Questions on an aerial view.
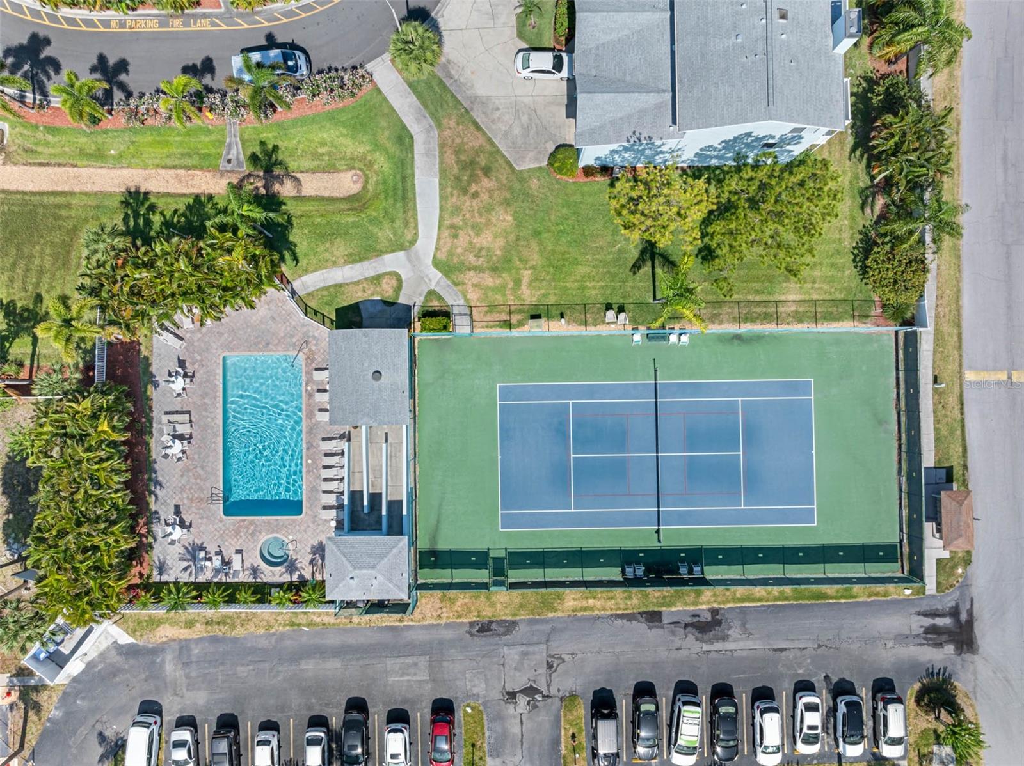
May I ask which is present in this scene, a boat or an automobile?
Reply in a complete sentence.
The one in the frame is an automobile.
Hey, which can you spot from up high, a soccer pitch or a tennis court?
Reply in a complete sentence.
The one in the frame is a tennis court.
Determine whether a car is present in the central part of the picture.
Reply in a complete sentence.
No, I see no car in the central part of the picture.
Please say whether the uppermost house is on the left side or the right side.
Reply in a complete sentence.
The uppermost house is on the right side of the image.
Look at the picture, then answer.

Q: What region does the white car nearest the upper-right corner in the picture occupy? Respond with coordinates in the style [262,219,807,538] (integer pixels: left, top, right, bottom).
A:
[514,46,572,81]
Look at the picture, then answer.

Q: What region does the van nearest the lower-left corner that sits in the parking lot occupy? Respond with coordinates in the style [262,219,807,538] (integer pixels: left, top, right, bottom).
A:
[127,713,165,766]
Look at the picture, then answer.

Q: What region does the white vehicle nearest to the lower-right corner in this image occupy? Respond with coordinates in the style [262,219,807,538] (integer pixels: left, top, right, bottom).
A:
[873,692,911,760]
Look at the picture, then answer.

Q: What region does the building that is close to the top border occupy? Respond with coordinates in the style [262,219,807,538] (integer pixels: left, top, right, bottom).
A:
[571,0,862,167]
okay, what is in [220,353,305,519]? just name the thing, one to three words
swimming pool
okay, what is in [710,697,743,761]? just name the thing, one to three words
car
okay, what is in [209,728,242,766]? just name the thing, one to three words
truck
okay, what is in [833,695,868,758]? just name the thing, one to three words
car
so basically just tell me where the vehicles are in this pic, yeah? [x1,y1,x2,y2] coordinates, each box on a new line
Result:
[873,692,911,760]
[710,697,743,761]
[632,696,663,762]
[384,723,412,766]
[791,692,825,755]
[170,726,200,766]
[338,711,371,766]
[304,726,331,766]
[254,730,282,766]
[833,695,868,758]
[591,705,622,766]
[209,728,242,766]
[426,713,457,766]
[670,693,703,764]
[514,46,572,81]
[751,700,785,764]
[127,713,165,766]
